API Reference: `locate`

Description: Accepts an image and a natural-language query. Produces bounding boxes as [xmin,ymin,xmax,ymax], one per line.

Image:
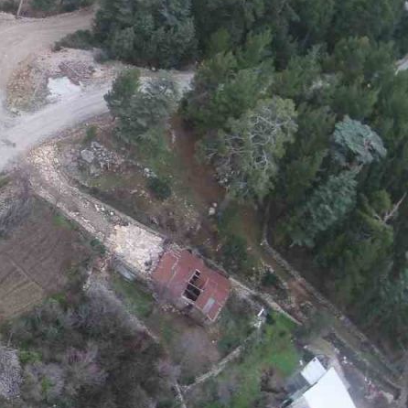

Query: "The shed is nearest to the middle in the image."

[145,246,231,334]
